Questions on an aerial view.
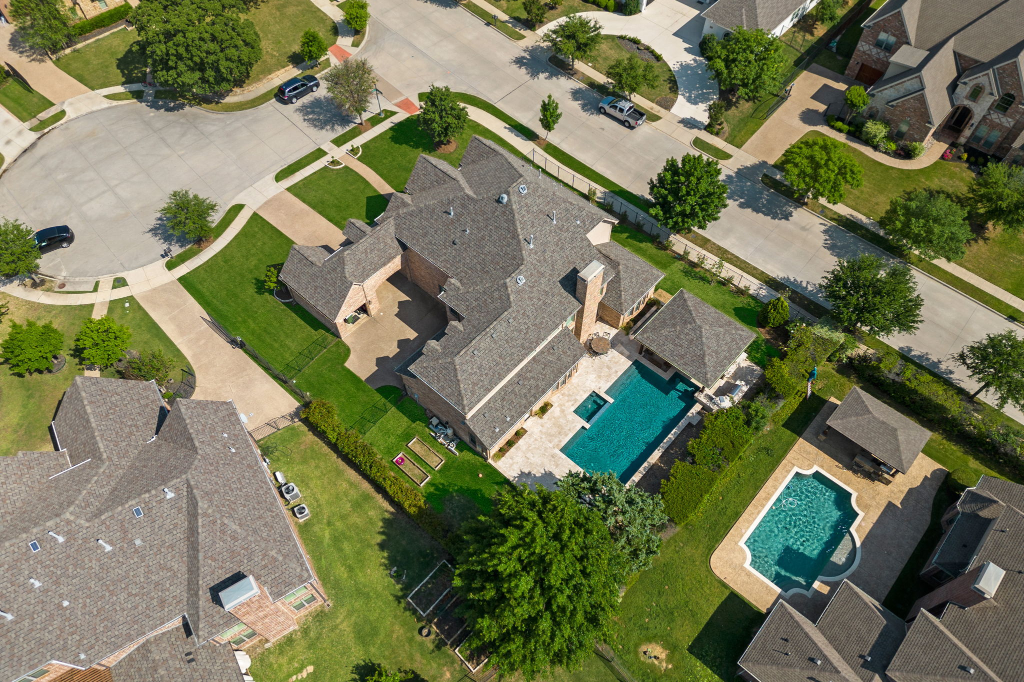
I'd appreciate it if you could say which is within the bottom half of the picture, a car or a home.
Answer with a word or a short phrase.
home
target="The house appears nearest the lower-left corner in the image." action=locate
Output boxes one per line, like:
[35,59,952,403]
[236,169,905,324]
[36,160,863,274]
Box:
[0,375,329,682]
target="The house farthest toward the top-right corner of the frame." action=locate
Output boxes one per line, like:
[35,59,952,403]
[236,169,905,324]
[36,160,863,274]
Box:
[841,0,1024,177]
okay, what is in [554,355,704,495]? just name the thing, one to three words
swimming pool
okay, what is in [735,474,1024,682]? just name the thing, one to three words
house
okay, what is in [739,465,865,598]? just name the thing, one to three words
swimming pool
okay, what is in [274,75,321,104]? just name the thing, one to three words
car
